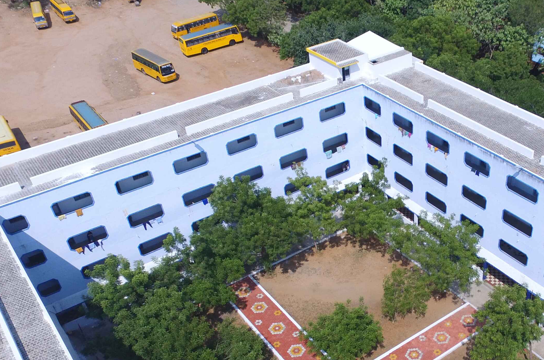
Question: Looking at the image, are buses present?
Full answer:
Yes, you can see a bus in this photo.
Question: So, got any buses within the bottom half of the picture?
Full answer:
No, I see no bus within the bottom half of the picture.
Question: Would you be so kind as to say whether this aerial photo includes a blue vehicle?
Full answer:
Yes, this view includes a blue vehicle.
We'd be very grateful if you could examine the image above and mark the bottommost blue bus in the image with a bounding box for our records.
[68,101,105,129]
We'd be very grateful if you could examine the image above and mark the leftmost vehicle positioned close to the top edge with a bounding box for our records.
[29,2,47,27]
